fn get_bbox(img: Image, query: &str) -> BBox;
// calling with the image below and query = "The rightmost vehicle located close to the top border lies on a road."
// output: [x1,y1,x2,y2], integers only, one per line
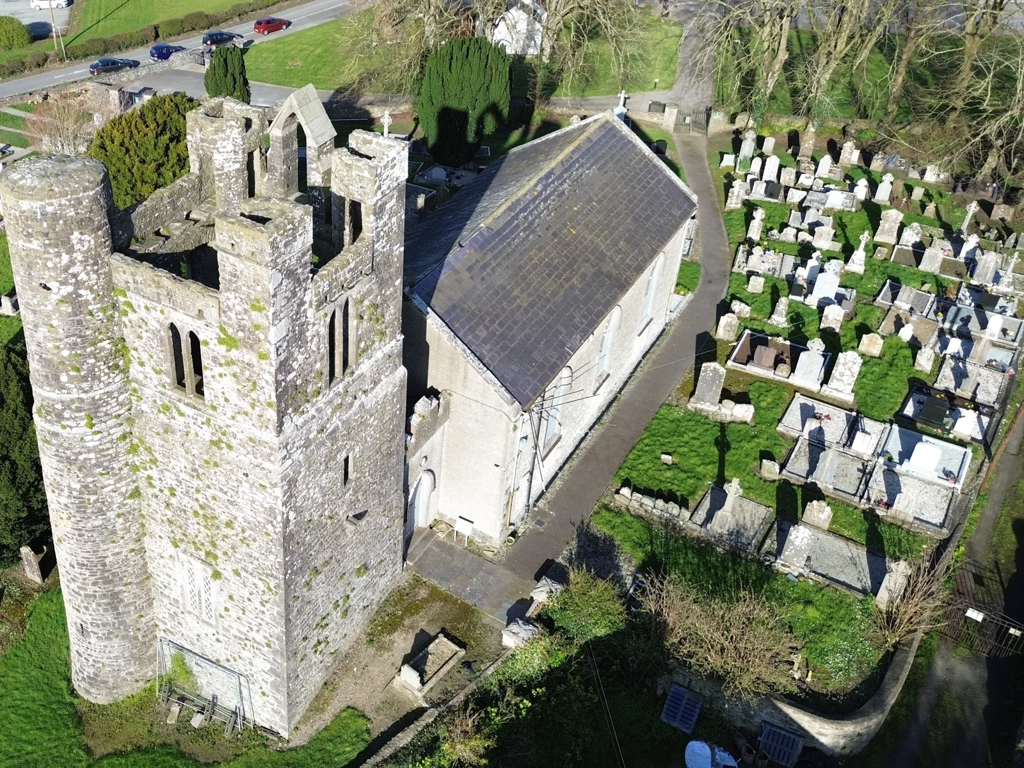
[252,14,292,35]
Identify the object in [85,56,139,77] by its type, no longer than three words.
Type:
car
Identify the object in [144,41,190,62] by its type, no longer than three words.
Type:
car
